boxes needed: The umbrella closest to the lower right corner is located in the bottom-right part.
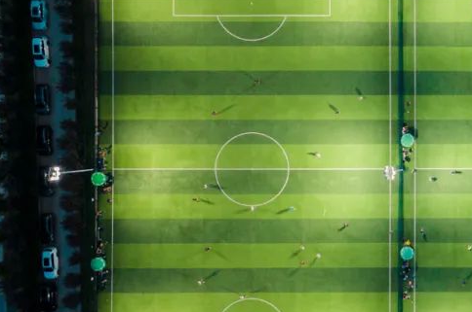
[400,246,413,260]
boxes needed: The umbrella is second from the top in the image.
[92,171,109,186]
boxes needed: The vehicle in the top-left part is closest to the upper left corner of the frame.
[30,0,48,30]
